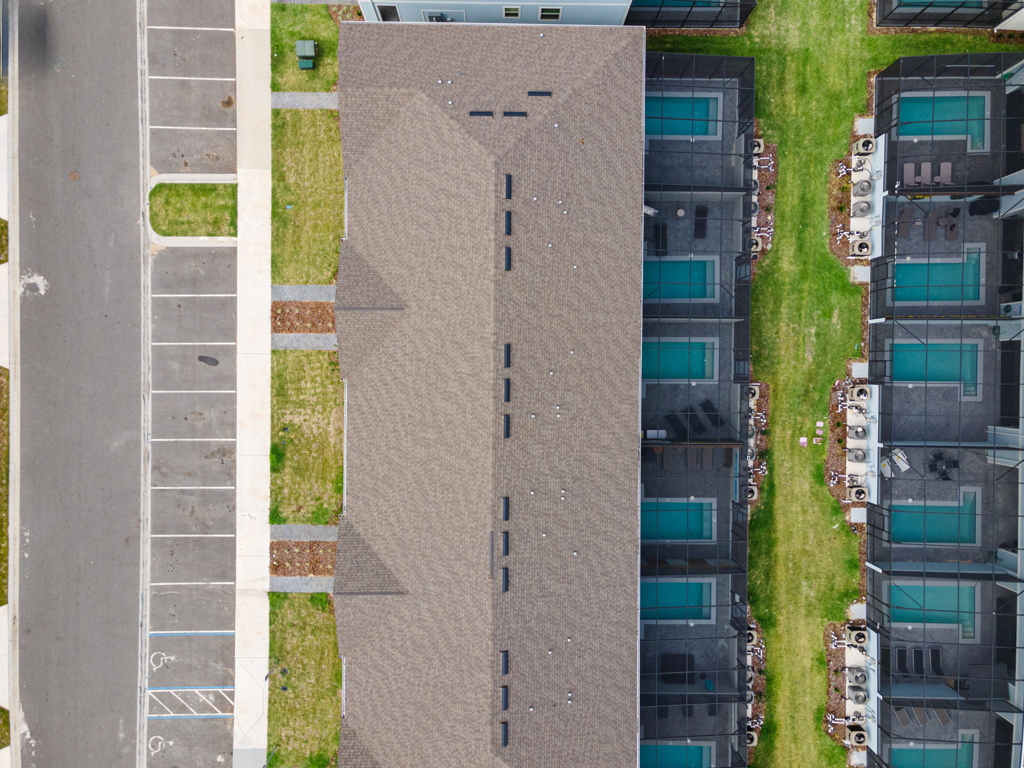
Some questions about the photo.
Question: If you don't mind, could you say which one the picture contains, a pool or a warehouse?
pool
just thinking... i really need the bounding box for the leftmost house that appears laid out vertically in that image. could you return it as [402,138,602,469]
[336,21,646,768]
